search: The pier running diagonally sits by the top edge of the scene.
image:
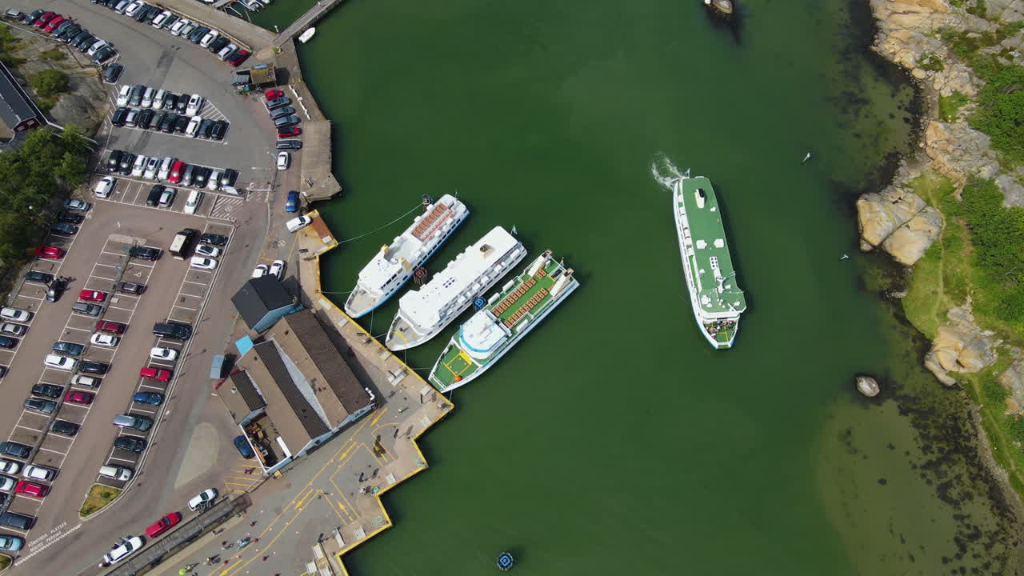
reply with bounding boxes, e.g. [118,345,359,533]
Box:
[272,0,341,49]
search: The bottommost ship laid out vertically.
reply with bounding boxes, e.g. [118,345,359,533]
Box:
[670,168,748,348]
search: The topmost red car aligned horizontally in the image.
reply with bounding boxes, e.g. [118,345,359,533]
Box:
[263,88,287,102]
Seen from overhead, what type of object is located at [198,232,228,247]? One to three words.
car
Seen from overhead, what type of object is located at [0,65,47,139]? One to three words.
house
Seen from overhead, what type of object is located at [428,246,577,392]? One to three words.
ship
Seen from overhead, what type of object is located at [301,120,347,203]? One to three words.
pier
